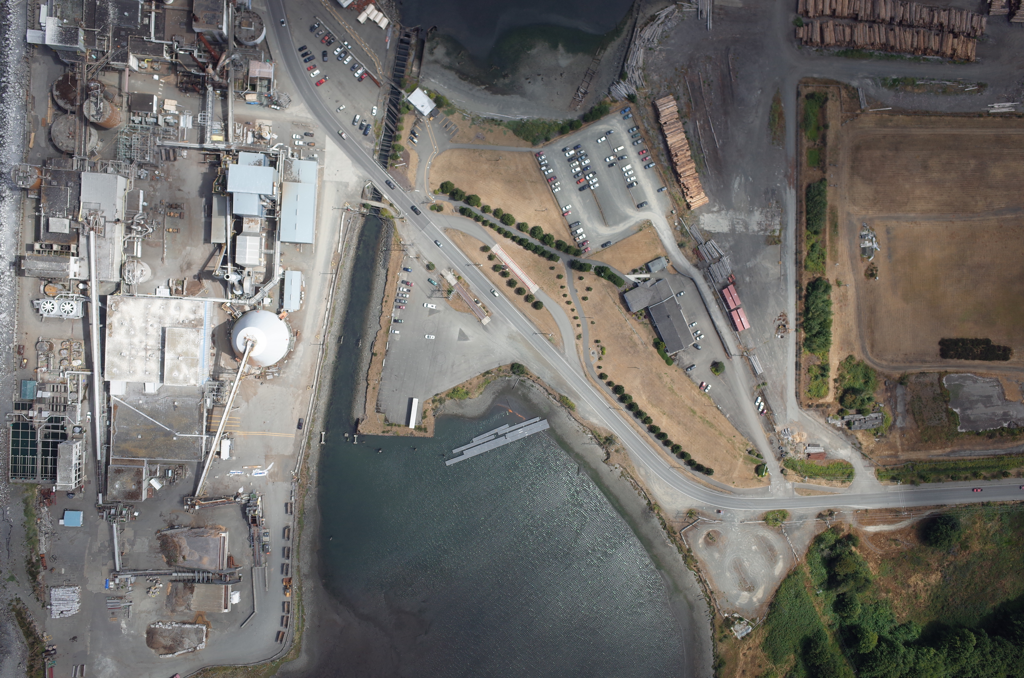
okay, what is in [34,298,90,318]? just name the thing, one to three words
cooling tower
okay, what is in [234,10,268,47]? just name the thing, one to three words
storage tank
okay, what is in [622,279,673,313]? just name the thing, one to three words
building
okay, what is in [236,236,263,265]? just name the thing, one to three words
house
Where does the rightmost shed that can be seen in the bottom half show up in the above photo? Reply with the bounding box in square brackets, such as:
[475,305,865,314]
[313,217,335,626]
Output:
[843,413,884,430]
